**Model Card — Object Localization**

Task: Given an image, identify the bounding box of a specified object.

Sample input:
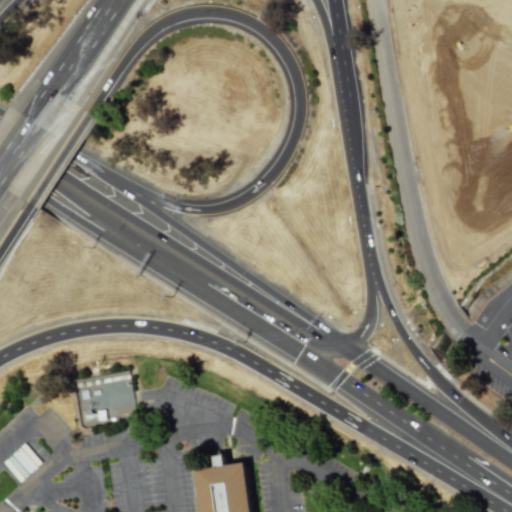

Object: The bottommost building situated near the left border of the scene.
[4,444,44,483]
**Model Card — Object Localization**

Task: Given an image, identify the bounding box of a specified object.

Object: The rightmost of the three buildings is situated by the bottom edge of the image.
[193,455,248,512]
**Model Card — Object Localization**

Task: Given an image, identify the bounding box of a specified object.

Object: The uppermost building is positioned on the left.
[78,372,136,428]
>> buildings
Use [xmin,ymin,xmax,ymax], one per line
[78,372,136,428]
[193,455,248,512]
[4,444,44,483]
